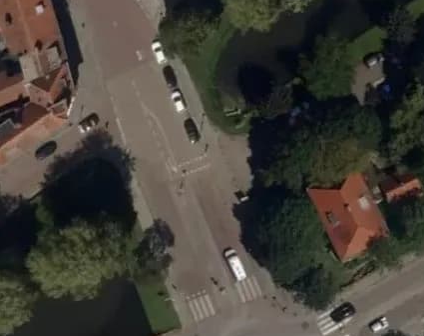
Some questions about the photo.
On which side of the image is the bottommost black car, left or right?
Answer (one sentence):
You can find the bottommost black car on the right side of the picture.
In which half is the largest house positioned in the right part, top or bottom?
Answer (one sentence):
You can find the largest house positioned in the right part in the bottom half.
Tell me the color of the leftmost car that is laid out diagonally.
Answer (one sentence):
In this view, the leftmost car that is laid out diagonally is black.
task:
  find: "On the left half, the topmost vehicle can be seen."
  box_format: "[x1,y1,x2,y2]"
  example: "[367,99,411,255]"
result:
[151,40,168,64]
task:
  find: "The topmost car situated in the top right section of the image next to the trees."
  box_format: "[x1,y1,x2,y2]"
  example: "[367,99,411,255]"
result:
[360,52,384,69]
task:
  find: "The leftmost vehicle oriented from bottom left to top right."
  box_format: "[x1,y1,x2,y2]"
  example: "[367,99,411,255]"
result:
[33,140,58,160]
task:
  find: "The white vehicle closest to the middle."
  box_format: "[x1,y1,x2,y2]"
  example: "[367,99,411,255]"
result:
[169,88,185,114]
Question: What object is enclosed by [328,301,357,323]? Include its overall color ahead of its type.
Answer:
black car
